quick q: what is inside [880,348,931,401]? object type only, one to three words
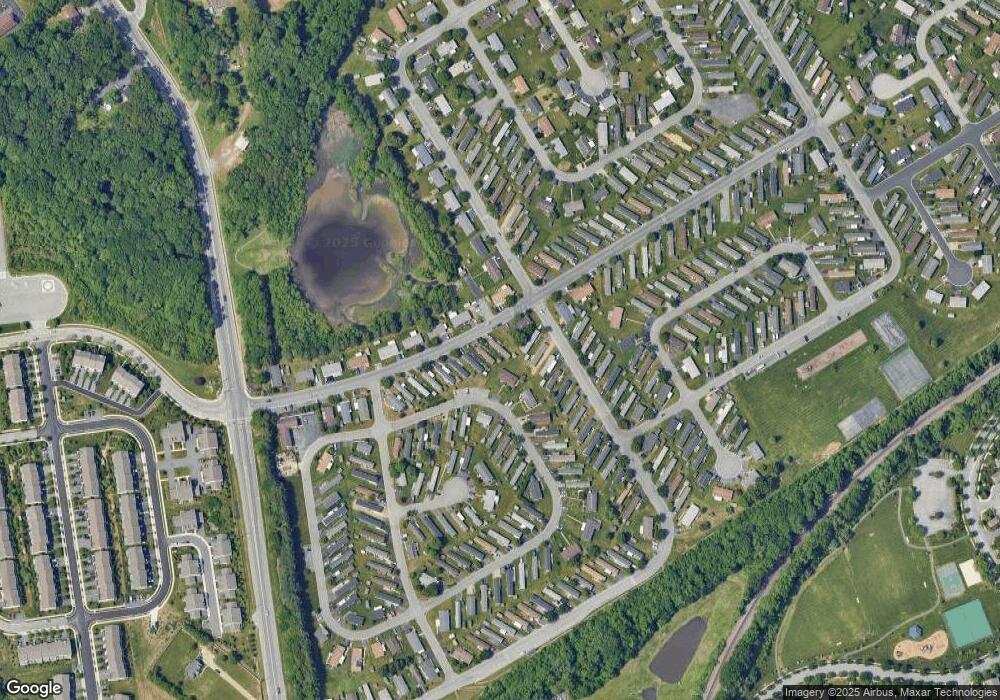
tennis court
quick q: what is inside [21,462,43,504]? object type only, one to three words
house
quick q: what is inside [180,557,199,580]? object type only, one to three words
house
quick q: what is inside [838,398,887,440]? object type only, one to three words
basketball court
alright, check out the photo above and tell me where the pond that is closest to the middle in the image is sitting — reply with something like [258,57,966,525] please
[289,166,408,327]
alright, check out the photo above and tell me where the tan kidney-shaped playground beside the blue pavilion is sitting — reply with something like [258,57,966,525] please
[892,630,948,658]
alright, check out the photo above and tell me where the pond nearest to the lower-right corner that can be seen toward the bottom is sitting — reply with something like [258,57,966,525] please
[642,617,708,700]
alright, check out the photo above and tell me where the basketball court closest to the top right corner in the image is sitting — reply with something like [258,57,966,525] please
[871,312,908,353]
